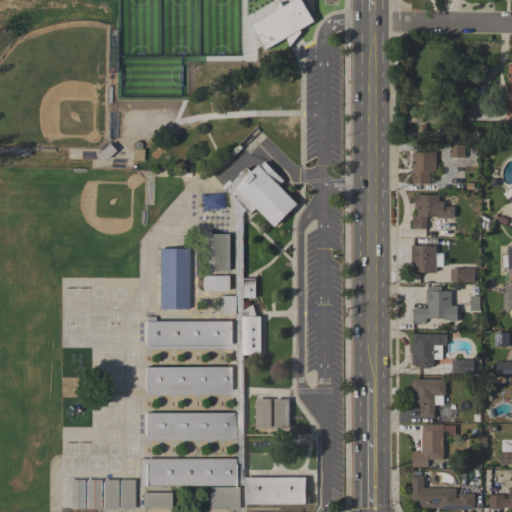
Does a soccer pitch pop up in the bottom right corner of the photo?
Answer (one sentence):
No, there's no soccer pitch to be seen in the bottom right corner of the photo.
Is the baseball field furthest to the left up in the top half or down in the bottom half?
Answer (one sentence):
It is in the top half that the baseball field furthest to the left appears.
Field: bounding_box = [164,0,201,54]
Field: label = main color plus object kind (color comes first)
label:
green soccer field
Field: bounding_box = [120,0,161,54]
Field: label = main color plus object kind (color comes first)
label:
green soccer field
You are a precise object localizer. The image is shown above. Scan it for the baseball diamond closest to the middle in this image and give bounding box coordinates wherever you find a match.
[81,174,145,234]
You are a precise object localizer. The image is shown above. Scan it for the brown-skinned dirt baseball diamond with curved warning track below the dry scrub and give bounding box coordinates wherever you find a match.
[0,22,110,147]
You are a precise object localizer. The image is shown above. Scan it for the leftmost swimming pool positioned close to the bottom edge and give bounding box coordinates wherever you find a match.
[434,471,458,486]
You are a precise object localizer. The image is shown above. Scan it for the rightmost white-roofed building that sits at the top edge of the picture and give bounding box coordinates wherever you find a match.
[249,0,314,50]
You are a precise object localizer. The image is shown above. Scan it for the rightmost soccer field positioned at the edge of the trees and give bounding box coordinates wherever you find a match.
[203,0,242,54]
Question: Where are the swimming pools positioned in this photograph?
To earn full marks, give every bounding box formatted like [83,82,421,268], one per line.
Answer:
[490,400,512,420]
[434,471,458,486]
[500,156,512,189]
[447,338,477,360]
